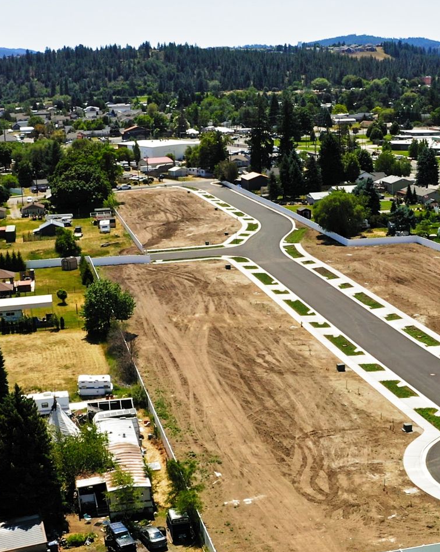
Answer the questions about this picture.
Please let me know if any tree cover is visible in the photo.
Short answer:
Yes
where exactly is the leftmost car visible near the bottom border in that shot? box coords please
[109,518,140,551]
